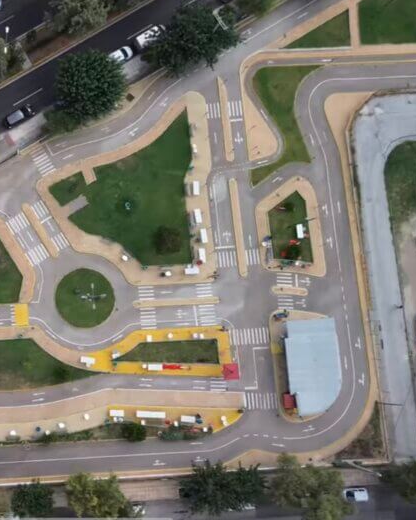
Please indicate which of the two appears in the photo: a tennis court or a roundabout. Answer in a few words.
roundabout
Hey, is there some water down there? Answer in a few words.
No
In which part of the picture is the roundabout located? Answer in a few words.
left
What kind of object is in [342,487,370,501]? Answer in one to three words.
car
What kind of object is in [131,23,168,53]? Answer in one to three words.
car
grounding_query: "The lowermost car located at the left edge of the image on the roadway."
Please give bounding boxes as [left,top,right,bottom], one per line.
[2,104,34,129]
